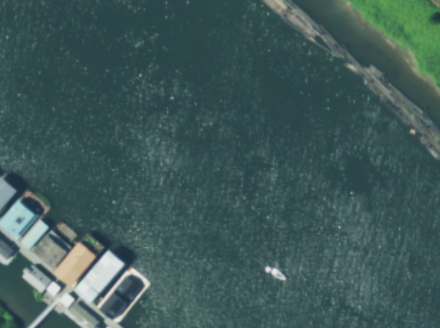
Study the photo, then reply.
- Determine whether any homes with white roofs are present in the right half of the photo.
No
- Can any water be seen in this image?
Yes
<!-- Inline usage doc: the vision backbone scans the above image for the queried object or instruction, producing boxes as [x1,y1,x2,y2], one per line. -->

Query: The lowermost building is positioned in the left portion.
[64,300,99,328]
